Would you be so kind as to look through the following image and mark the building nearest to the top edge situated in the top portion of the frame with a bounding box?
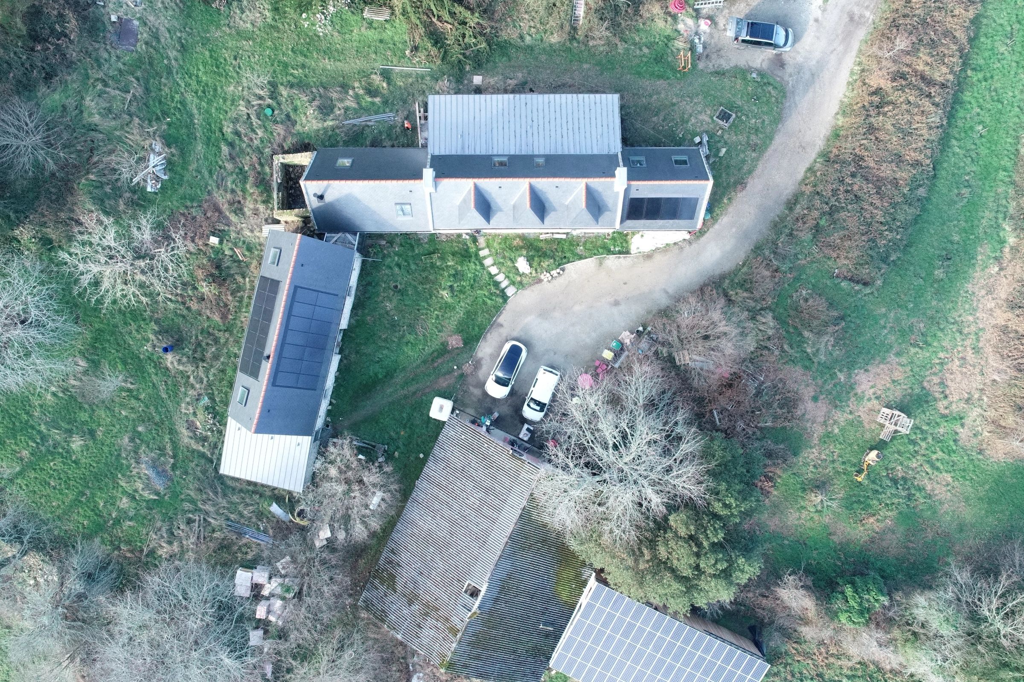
[300,92,714,235]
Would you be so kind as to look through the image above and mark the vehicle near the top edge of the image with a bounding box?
[720,14,791,56]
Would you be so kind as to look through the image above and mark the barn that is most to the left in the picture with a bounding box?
[219,229,374,494]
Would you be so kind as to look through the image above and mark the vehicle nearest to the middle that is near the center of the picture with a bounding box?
[488,340,524,398]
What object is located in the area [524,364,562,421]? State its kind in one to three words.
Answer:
van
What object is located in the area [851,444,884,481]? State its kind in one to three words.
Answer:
work vehicle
